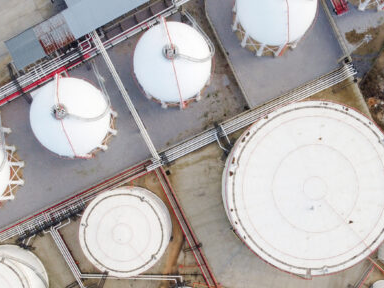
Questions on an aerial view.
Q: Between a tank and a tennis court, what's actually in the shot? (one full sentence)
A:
Of the two, only a tank appears.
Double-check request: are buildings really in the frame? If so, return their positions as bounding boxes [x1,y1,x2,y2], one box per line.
[59,0,153,45]
[33,10,77,59]
[5,28,48,73]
